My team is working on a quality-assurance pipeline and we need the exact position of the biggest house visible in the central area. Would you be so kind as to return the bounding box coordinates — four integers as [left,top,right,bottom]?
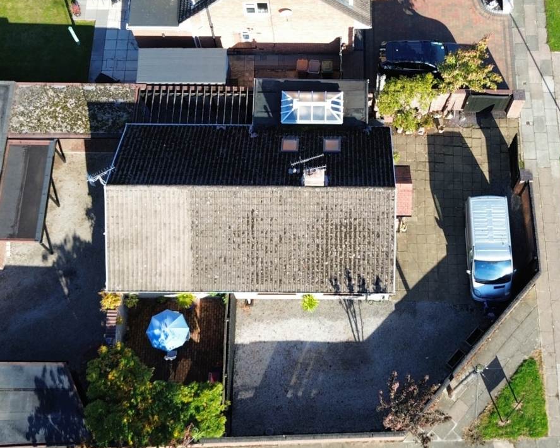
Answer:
[102,126,398,306]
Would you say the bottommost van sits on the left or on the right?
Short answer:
right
